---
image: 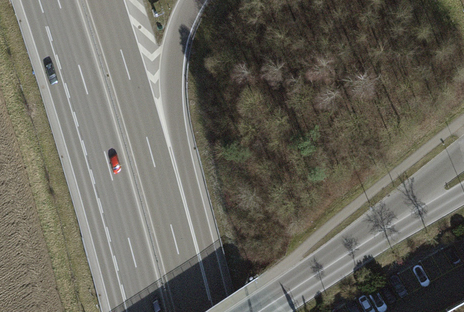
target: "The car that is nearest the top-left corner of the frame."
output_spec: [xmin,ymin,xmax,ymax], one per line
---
[45,61,59,84]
